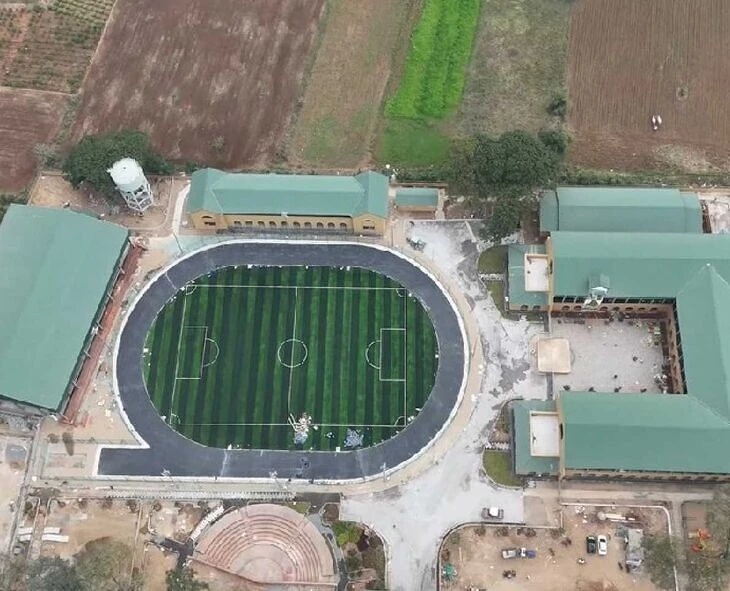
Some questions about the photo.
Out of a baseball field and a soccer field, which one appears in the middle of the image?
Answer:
soccer field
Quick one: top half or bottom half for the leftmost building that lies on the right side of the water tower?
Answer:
top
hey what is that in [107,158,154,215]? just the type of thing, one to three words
water tower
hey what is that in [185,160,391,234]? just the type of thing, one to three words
building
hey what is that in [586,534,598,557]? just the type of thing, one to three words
vehicle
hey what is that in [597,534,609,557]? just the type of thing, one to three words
vehicle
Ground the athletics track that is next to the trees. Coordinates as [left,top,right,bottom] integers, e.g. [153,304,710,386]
[92,239,471,482]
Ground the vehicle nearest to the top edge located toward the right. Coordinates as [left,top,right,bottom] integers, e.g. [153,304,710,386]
[482,507,507,519]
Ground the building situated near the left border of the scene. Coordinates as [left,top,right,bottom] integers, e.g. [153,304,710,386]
[0,207,134,425]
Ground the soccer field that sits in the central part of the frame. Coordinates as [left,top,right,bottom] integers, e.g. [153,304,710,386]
[145,264,440,451]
